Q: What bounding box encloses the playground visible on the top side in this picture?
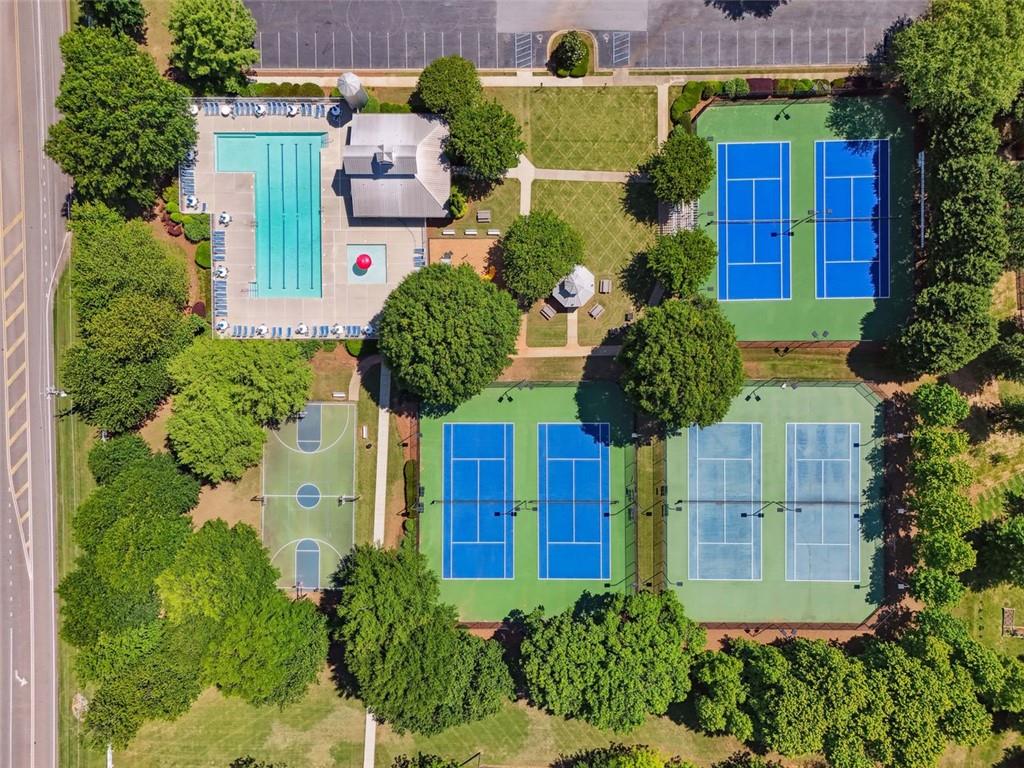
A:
[429,238,512,291]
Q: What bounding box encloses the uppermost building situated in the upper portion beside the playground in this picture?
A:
[344,113,450,218]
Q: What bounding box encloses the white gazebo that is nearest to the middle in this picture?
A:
[553,265,595,307]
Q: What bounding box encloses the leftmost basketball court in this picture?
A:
[262,402,357,590]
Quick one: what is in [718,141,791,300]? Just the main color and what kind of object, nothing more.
blue tennis court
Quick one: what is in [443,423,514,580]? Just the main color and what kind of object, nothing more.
blue tennis court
